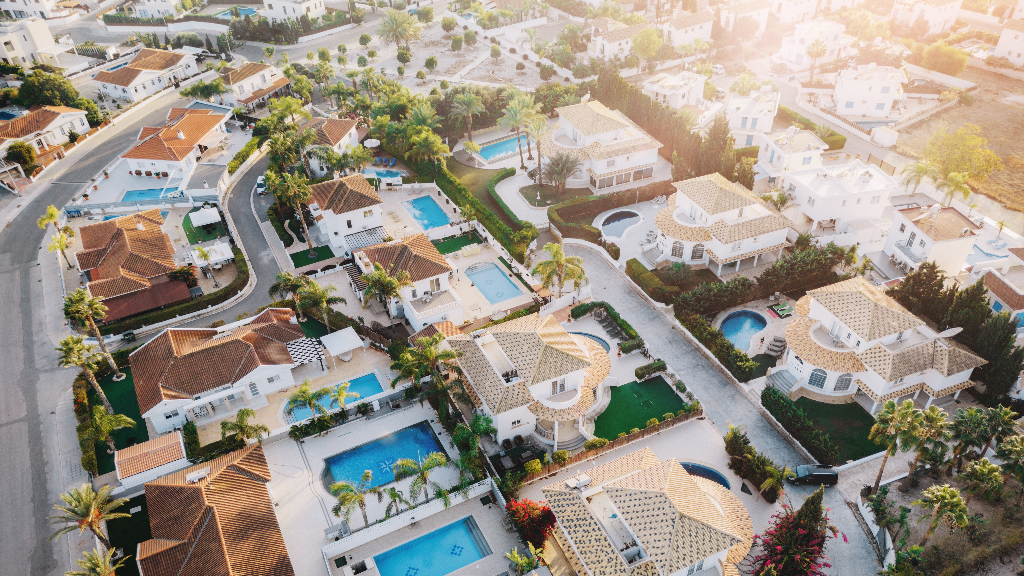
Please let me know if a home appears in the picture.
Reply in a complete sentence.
Yes, there's a home here.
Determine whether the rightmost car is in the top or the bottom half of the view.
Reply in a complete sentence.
The rightmost car sits in the bottom half of the picture.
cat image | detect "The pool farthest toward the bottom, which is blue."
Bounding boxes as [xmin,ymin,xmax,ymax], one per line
[371,509,496,576]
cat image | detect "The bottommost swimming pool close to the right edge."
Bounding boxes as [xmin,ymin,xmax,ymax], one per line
[966,244,1009,264]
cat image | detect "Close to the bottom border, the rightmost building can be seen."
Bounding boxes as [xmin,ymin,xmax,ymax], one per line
[536,444,756,576]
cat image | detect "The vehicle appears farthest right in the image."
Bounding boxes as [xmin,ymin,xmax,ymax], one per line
[787,461,844,488]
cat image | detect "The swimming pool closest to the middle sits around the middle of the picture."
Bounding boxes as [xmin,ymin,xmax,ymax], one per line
[462,260,527,306]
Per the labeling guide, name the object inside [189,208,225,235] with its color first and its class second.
white gazebo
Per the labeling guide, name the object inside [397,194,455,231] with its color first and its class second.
blue swimming pool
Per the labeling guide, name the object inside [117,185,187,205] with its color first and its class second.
blue swimming pool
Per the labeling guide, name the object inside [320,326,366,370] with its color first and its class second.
white gazebo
